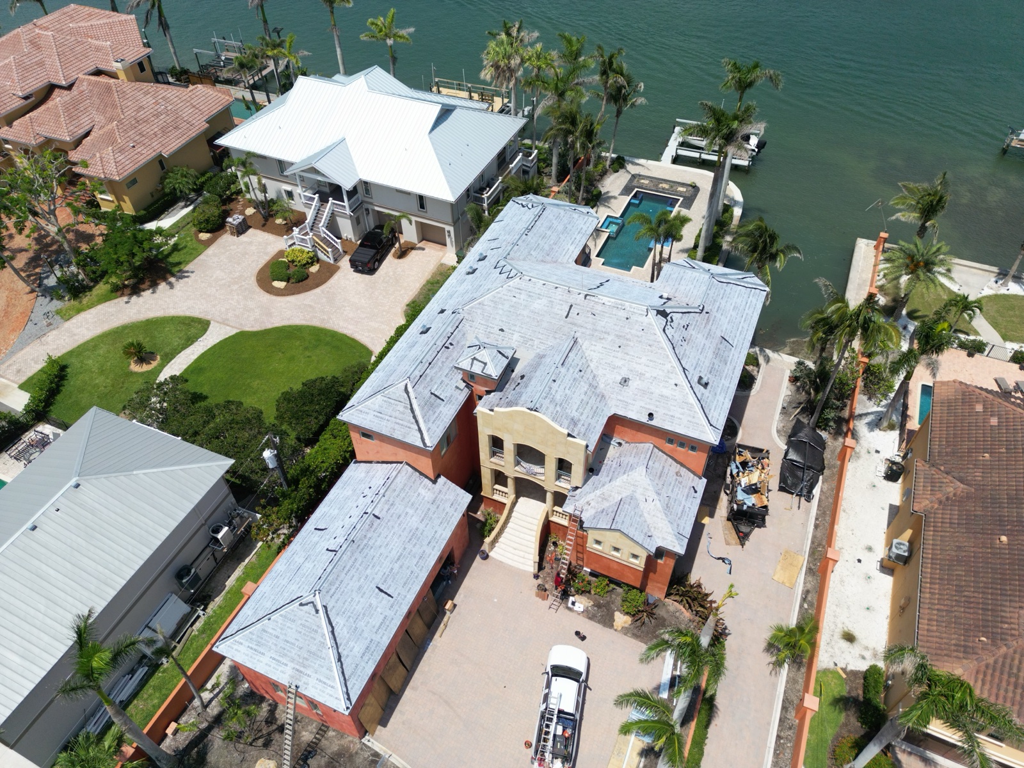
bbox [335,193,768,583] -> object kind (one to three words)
house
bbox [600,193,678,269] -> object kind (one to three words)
swimming pool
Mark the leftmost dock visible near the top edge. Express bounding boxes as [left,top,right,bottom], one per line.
[180,14,298,88]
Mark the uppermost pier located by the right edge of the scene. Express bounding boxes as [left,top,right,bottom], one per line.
[993,118,1024,162]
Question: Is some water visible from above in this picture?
Yes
